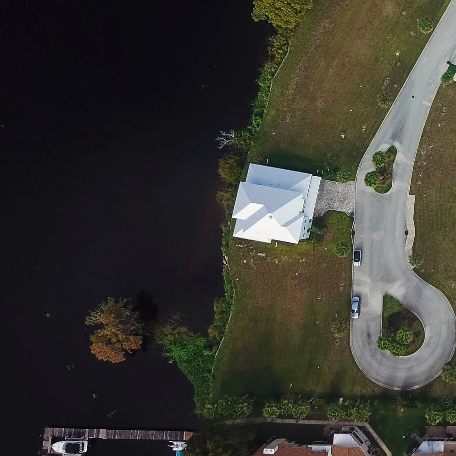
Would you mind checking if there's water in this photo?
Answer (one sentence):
Yes, water shows up in the scene.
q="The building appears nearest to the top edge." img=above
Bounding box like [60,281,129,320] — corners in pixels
[232,162,325,243]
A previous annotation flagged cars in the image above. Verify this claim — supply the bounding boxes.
[351,296,361,318]
[354,248,363,268]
